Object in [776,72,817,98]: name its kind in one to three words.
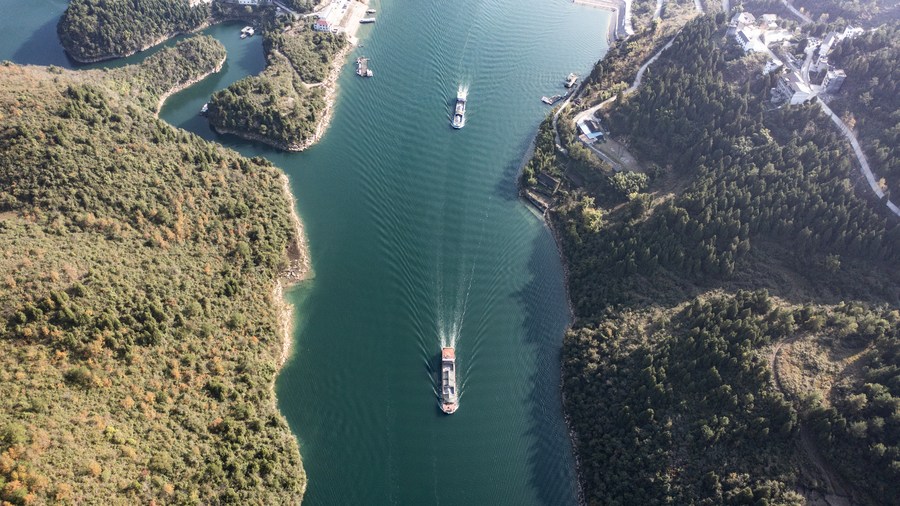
building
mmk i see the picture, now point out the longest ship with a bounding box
[439,347,457,409]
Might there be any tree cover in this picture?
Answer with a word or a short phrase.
Yes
